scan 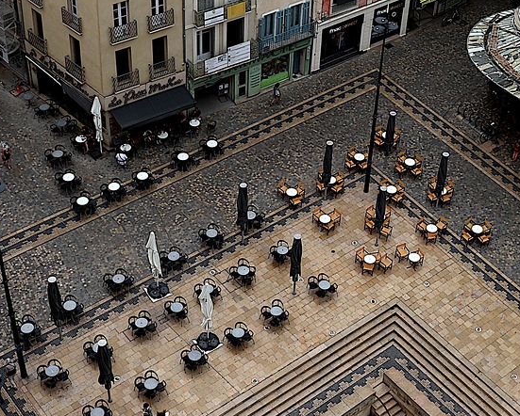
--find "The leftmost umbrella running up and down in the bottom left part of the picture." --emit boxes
[47,277,64,342]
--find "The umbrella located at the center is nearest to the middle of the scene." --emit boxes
[237,184,250,245]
